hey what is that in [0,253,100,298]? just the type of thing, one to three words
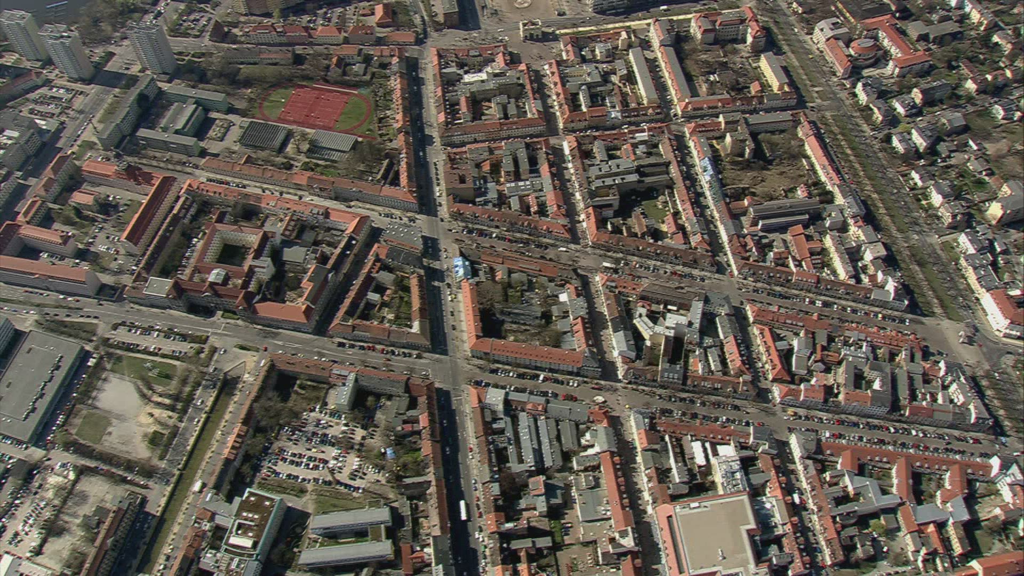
building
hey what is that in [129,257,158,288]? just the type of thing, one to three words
house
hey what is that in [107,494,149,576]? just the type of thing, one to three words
building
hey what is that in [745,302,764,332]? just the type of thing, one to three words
house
